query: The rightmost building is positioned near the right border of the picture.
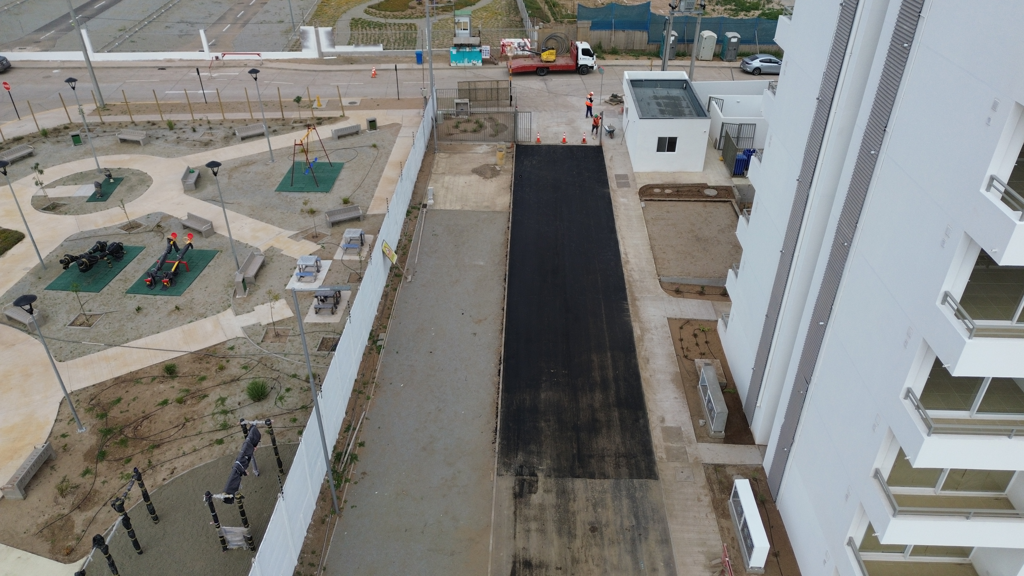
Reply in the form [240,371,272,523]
[718,0,1024,576]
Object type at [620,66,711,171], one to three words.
building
